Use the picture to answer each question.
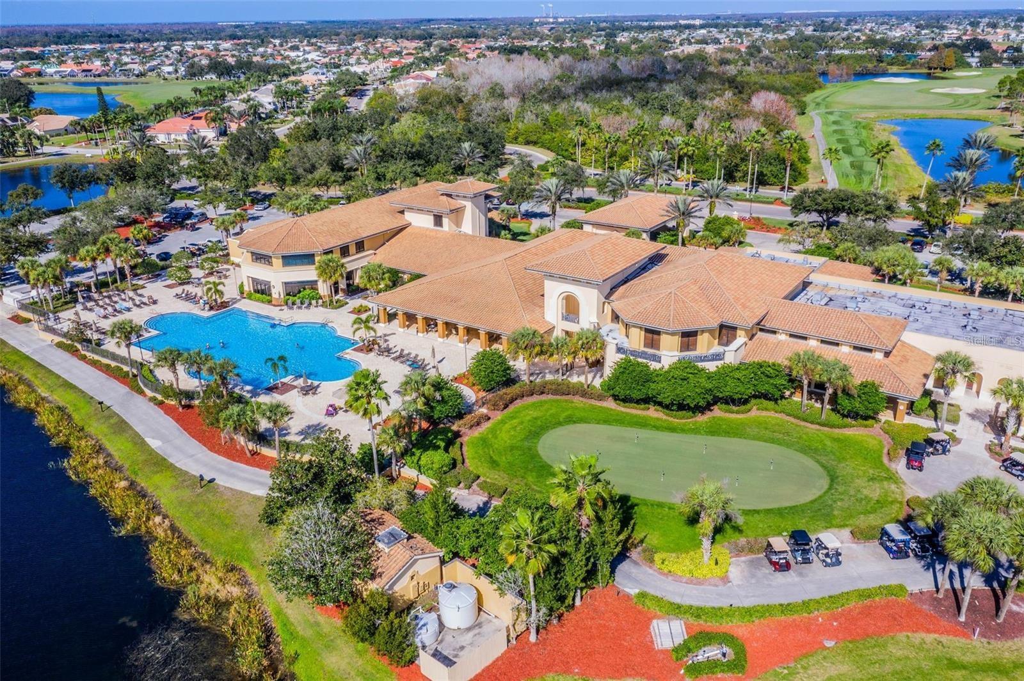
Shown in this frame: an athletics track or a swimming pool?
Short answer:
swimming pool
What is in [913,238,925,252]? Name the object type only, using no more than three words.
vehicle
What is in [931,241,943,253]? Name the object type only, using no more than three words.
vehicle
